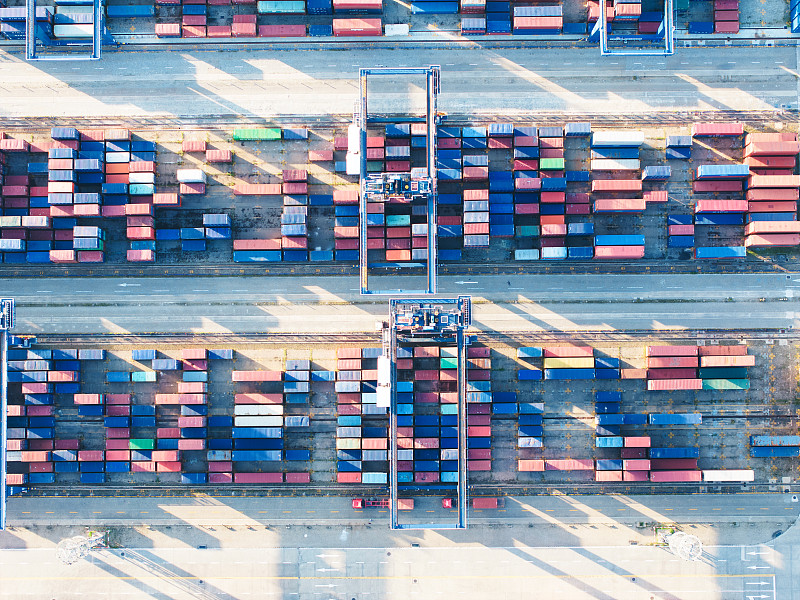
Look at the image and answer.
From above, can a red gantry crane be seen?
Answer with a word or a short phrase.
No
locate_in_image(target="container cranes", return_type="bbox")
[0,299,47,531]
[23,0,128,60]
[347,65,451,294]
[578,0,679,56]
[377,296,479,529]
